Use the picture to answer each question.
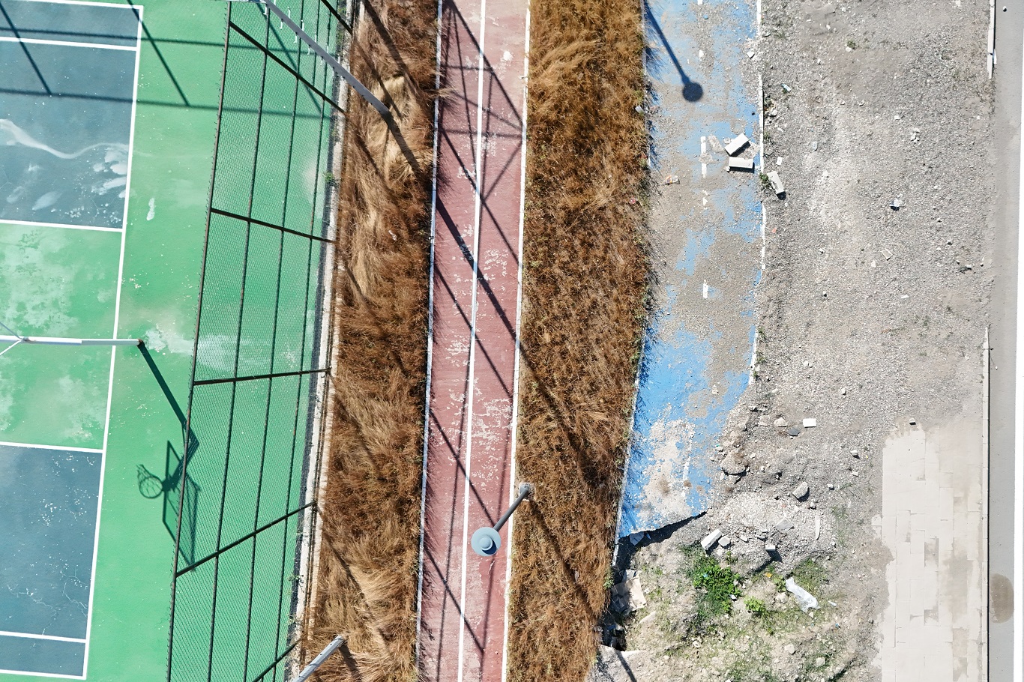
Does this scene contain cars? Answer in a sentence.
No, the frame has no car in it.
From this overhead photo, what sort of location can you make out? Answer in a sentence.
This image shows a sports ground.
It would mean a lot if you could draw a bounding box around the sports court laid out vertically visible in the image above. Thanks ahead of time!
[0,0,342,682]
